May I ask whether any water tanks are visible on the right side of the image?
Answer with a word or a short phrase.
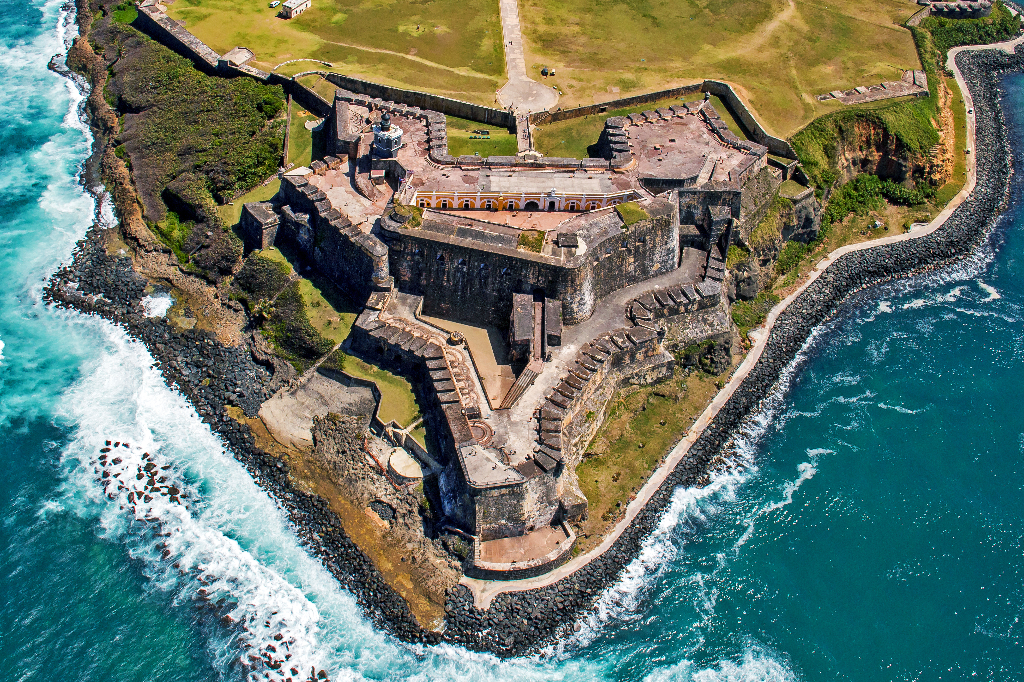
No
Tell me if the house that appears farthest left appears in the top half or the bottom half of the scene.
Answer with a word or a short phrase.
top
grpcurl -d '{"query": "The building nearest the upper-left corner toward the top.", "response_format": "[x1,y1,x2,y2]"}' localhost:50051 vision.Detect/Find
[218,47,257,84]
